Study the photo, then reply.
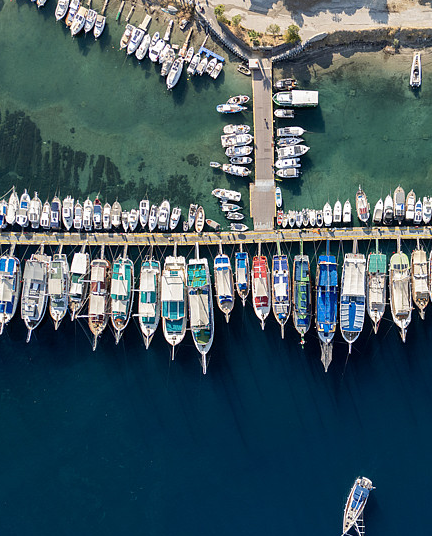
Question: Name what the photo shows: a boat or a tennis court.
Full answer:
It is a boat that can be seen here.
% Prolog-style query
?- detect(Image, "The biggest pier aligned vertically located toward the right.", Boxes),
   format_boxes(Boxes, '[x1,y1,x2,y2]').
[249,58,277,229]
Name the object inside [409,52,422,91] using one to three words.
boat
